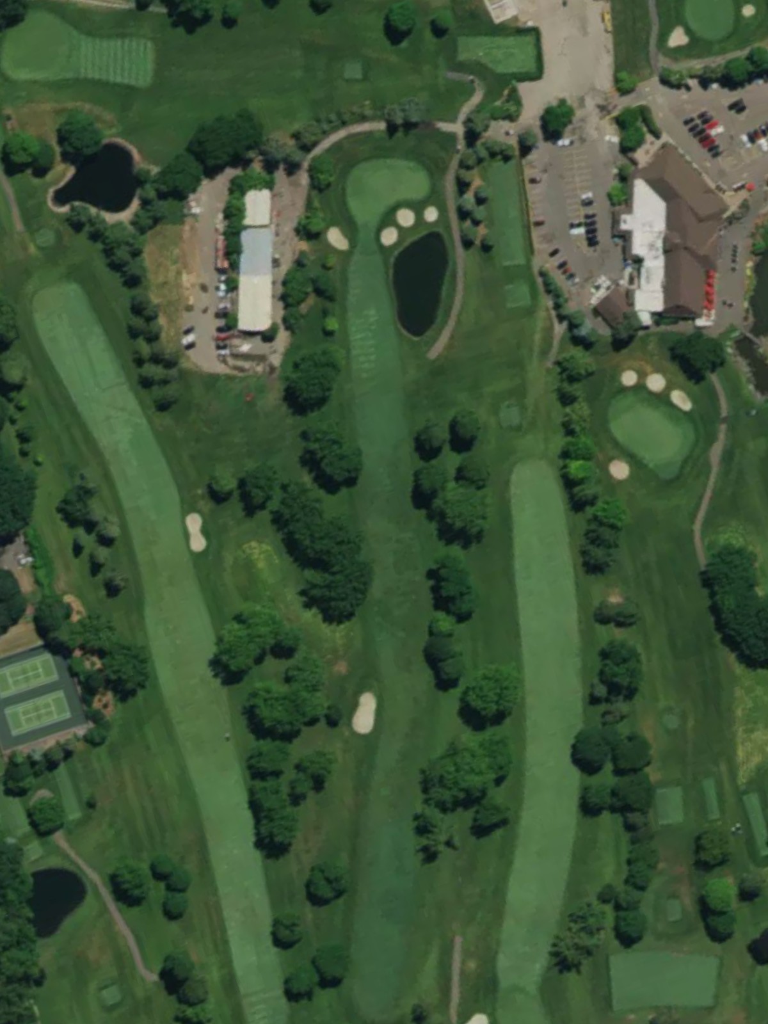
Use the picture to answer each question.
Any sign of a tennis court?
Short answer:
Yes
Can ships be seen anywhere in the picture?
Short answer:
No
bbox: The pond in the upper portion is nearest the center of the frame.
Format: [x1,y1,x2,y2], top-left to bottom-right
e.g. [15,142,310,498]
[392,232,448,337]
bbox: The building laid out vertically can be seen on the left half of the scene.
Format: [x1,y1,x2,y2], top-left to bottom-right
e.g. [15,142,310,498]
[238,189,272,330]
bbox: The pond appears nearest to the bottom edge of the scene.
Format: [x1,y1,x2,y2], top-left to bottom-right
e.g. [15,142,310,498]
[22,868,86,938]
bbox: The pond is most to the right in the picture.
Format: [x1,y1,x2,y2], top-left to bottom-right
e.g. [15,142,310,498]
[734,251,768,395]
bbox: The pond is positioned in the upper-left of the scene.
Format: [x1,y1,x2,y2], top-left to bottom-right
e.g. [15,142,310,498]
[53,141,137,212]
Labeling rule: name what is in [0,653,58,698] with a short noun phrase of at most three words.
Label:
tennis court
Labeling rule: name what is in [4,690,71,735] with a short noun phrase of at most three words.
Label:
tennis court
